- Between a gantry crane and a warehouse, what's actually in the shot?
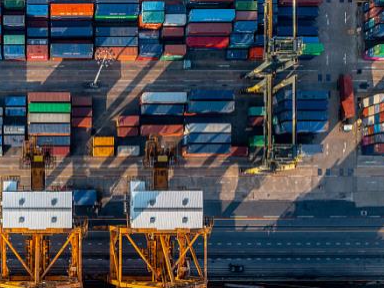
gantry crane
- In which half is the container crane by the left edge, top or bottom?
bottom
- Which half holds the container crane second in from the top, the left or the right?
right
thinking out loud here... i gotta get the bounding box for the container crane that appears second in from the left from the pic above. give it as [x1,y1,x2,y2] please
[92,135,215,288]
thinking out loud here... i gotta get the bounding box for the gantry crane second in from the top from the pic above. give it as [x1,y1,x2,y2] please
[236,73,302,176]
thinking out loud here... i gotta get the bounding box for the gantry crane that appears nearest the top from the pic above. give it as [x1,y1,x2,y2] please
[236,0,302,81]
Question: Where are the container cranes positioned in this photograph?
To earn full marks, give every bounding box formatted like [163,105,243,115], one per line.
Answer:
[92,135,215,288]
[236,73,302,176]
[236,0,302,81]
[0,135,90,288]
